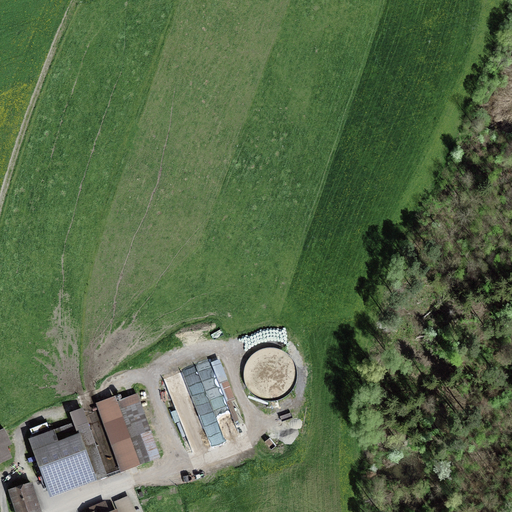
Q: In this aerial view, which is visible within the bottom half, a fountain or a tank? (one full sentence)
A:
Looking within the bottom half, you will find a tank.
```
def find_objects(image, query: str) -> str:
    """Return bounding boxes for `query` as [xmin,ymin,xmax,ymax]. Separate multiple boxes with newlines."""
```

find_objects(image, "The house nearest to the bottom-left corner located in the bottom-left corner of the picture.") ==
[8,481,42,512]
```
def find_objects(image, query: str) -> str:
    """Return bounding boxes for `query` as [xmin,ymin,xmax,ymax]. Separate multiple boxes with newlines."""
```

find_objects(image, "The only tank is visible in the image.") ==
[242,346,296,400]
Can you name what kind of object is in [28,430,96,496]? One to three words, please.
barn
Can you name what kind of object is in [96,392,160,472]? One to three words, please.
barn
